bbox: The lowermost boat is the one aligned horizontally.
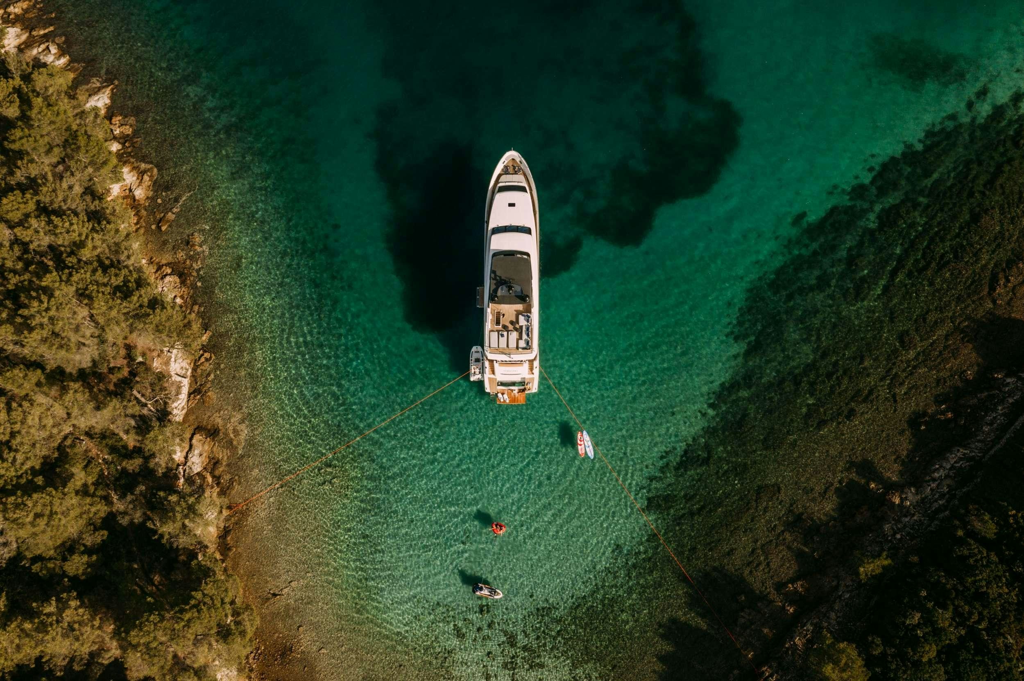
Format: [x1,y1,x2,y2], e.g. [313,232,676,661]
[471,584,503,599]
